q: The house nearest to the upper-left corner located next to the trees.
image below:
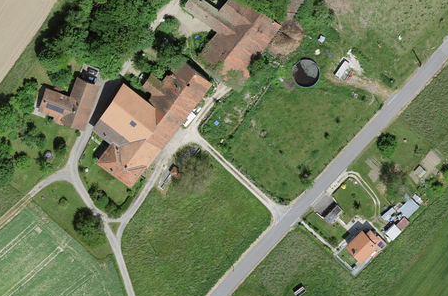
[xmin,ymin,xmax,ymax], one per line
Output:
[38,78,101,132]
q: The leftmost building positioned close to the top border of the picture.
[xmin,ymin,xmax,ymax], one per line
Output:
[185,0,280,80]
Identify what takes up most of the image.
grass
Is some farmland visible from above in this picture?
Yes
